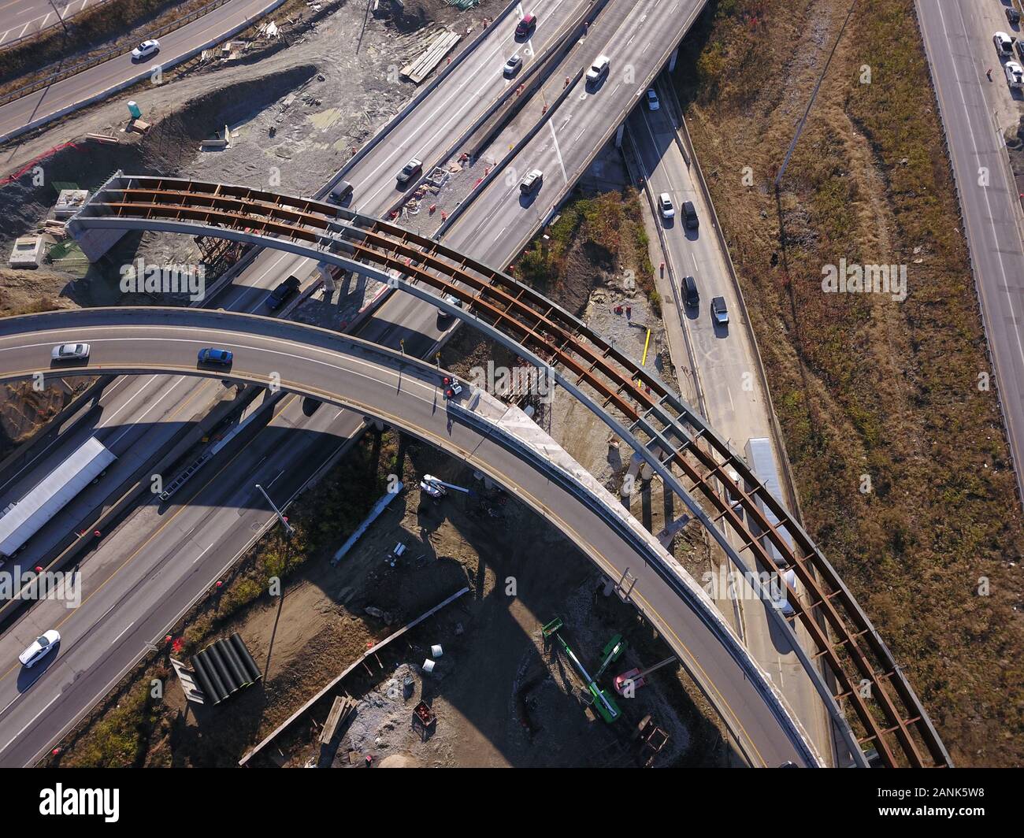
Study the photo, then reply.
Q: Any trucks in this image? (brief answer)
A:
Yes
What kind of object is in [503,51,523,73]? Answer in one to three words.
car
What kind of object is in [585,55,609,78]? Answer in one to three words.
truck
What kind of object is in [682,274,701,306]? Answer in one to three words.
vehicle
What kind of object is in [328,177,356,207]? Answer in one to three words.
van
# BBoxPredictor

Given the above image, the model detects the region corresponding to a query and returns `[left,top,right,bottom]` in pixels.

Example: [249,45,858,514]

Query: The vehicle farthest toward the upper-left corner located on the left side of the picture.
[130,39,159,57]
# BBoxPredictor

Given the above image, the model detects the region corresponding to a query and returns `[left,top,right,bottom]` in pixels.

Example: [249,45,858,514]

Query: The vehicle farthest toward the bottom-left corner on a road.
[13,630,61,672]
